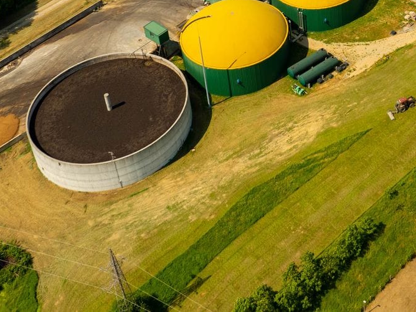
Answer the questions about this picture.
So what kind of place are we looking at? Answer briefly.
industrial area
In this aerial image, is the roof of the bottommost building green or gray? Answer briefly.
green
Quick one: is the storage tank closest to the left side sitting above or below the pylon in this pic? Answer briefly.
above it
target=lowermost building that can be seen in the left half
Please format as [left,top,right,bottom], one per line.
[132,25,173,56]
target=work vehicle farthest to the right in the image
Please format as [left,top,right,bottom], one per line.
[386,92,416,116]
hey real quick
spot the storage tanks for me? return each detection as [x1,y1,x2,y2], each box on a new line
[270,0,367,34]
[302,57,338,88]
[25,47,193,192]
[179,0,292,95]
[291,48,328,77]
